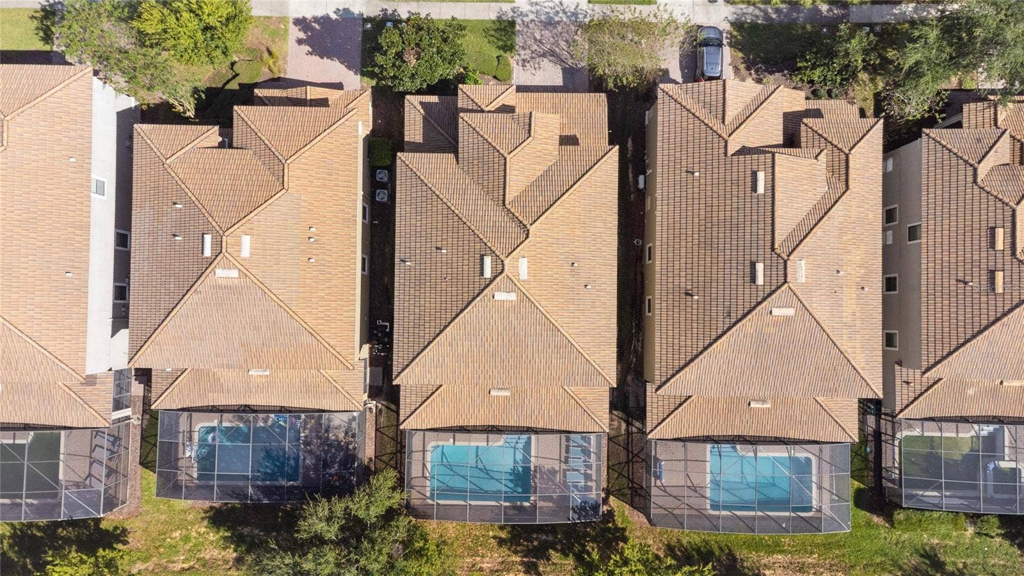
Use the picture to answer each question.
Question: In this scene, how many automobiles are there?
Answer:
1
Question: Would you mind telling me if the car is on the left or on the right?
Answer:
right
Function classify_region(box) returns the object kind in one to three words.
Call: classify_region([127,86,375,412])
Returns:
house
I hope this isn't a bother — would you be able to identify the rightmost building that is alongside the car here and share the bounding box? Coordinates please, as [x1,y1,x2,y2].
[643,79,885,444]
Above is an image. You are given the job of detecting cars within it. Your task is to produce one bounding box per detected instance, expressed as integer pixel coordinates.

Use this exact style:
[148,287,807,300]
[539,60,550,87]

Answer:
[697,25,728,82]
